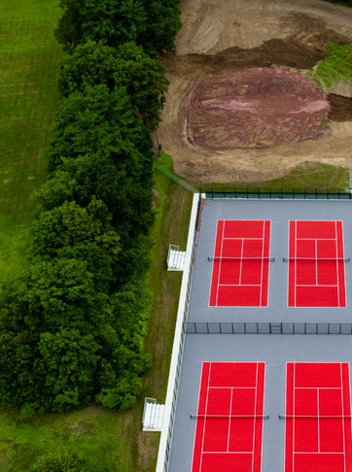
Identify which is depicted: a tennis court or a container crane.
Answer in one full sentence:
Visible in the photo is a tennis court.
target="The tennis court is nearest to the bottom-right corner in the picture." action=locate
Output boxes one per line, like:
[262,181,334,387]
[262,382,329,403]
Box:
[284,363,352,472]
